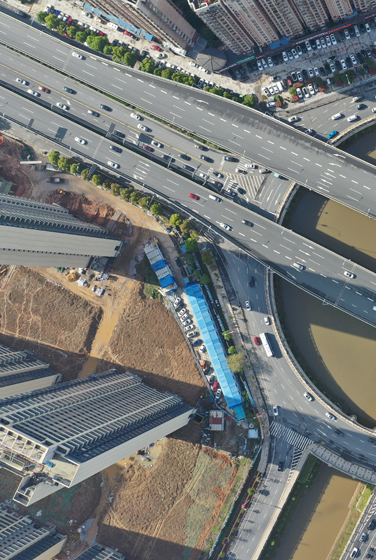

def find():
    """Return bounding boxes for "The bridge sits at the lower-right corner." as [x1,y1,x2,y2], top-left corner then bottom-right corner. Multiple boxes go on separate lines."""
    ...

[308,442,376,485]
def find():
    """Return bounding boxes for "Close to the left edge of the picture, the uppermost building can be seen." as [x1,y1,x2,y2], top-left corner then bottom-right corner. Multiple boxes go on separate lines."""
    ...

[0,188,120,268]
